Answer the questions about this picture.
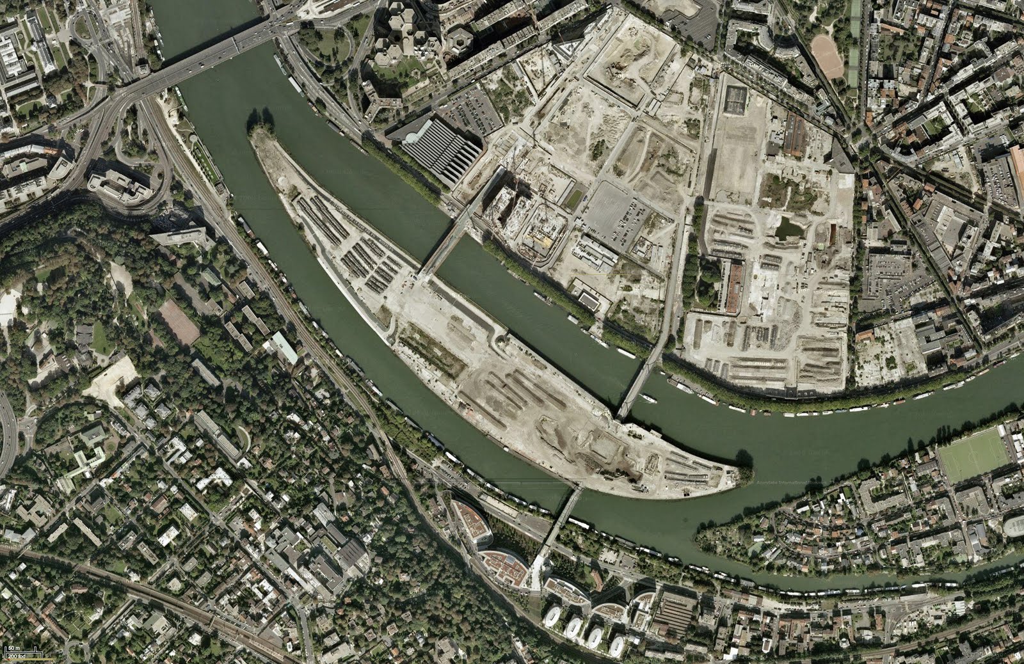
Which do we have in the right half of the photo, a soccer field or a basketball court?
soccer field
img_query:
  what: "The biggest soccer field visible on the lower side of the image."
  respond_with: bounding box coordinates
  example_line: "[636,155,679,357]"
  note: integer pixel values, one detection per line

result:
[942,429,1008,481]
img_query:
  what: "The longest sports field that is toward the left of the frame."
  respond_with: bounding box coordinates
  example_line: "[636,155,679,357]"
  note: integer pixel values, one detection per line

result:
[158,299,200,345]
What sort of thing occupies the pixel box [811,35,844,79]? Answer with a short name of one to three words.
sports field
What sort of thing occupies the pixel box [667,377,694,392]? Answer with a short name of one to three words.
boat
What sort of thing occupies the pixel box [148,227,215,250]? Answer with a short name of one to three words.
building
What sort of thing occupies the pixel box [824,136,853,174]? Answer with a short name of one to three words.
shed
